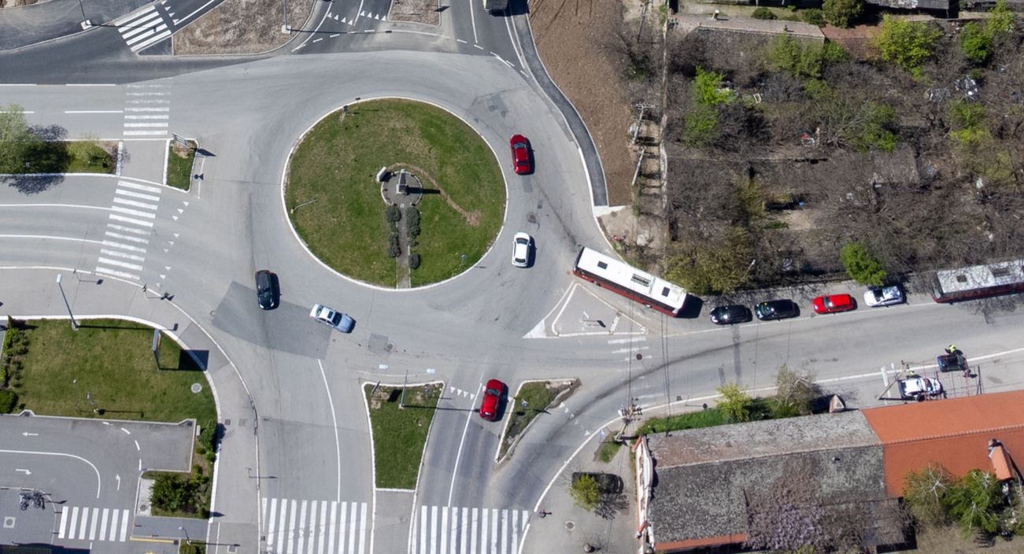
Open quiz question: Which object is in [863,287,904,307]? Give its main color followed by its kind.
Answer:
white car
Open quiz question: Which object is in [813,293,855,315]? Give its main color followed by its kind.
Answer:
red car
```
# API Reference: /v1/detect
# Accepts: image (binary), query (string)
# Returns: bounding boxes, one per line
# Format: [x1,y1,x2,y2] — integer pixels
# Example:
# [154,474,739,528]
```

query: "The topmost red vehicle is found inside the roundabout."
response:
[510,137,530,174]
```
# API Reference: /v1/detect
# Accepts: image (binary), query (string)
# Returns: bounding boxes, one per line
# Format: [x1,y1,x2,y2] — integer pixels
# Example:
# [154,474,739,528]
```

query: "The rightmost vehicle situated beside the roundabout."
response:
[572,248,688,325]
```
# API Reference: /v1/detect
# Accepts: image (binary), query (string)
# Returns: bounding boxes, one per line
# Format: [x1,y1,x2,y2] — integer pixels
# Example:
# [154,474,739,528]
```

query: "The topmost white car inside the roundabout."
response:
[512,233,532,268]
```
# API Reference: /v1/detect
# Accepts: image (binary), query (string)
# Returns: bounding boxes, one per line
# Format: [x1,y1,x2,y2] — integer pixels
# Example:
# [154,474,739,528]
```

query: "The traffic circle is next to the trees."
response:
[246,52,586,347]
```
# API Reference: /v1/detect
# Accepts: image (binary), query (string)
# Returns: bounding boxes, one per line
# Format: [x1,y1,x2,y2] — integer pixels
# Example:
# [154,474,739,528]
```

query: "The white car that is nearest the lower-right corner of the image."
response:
[898,375,942,397]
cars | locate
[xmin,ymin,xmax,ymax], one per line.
[256,270,277,310]
[754,299,799,321]
[813,293,855,315]
[711,304,752,326]
[510,137,530,174]
[898,375,942,397]
[512,233,532,268]
[863,287,904,307]
[935,353,968,372]
[480,380,505,422]
[308,303,354,334]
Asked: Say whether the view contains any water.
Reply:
No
